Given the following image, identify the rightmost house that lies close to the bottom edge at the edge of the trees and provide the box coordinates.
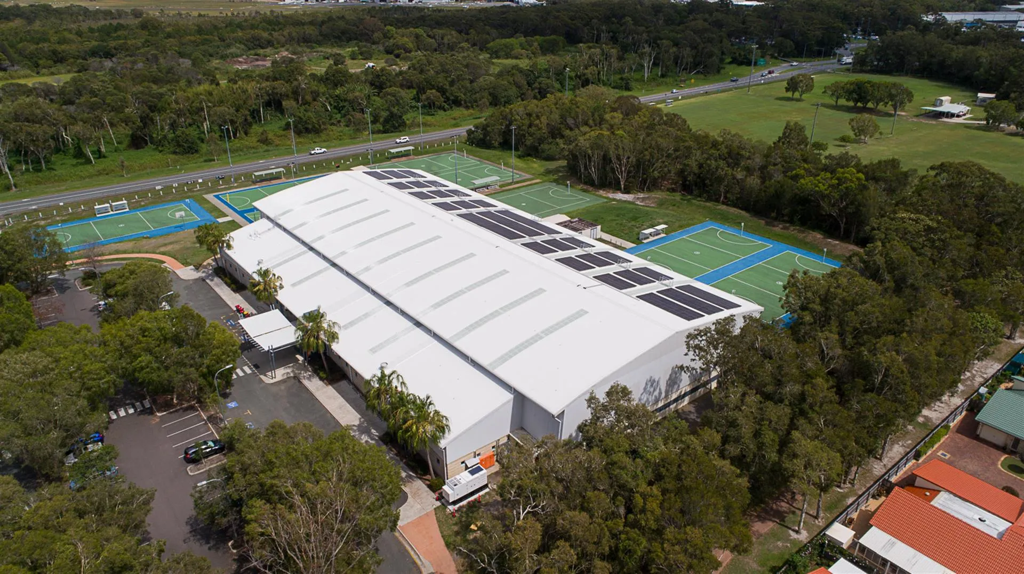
[855,454,1024,574]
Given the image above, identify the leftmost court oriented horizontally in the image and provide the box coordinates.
[40,204,199,246]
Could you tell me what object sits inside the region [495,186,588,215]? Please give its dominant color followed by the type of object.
green sports court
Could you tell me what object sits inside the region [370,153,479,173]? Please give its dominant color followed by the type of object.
green sports court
